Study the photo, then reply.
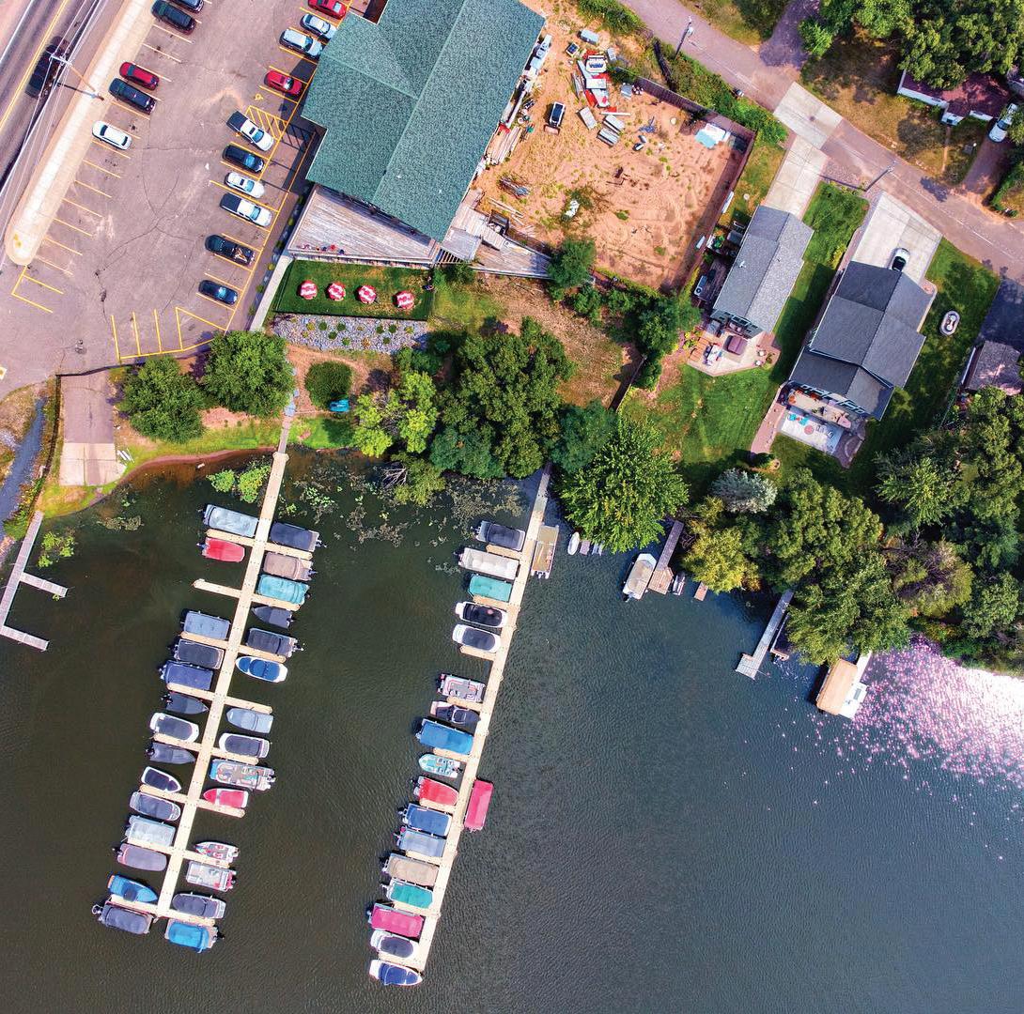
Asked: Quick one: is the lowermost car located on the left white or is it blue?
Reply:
blue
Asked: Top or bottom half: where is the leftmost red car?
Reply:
top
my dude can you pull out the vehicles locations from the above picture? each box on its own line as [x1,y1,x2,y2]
[108,78,154,109]
[889,247,911,273]
[545,98,566,132]
[219,190,269,223]
[531,26,558,66]
[298,9,337,38]
[203,233,253,263]
[306,0,346,18]
[278,25,320,55]
[167,0,203,13]
[522,95,536,109]
[197,278,236,304]
[90,120,129,148]
[221,141,263,171]
[224,107,272,147]
[263,68,301,94]
[20,38,60,95]
[118,60,157,88]
[223,170,263,197]
[150,0,195,29]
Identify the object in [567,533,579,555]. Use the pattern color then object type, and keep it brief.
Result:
white boat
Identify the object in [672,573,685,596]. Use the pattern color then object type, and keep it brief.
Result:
white vessel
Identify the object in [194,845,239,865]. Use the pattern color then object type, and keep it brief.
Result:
white boat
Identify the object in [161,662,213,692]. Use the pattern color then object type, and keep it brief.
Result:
blue boat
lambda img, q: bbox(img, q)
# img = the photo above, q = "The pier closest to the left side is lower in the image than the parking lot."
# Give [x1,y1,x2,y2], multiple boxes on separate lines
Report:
[0,514,69,651]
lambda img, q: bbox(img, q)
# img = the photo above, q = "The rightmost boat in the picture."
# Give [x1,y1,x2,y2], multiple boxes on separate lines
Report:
[941,311,960,334]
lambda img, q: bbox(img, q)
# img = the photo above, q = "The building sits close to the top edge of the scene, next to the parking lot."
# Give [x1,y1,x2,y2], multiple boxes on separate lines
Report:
[300,0,546,242]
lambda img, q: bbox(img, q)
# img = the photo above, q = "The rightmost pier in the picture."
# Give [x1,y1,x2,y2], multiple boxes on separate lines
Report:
[844,650,876,720]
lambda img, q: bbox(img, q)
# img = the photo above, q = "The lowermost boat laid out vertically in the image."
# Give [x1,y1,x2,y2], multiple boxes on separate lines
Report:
[466,781,493,834]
